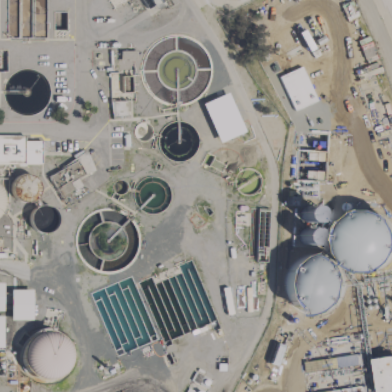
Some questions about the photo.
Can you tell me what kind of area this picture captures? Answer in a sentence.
This looks like an industrial area.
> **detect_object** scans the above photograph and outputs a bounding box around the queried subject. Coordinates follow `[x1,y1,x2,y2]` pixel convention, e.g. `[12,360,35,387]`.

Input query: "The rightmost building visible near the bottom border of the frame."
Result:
[366,356,392,392]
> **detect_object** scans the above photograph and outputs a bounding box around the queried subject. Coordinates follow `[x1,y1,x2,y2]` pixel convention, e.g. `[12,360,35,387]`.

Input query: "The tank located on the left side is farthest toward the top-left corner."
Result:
[0,70,52,116]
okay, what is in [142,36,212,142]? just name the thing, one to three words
storage tank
